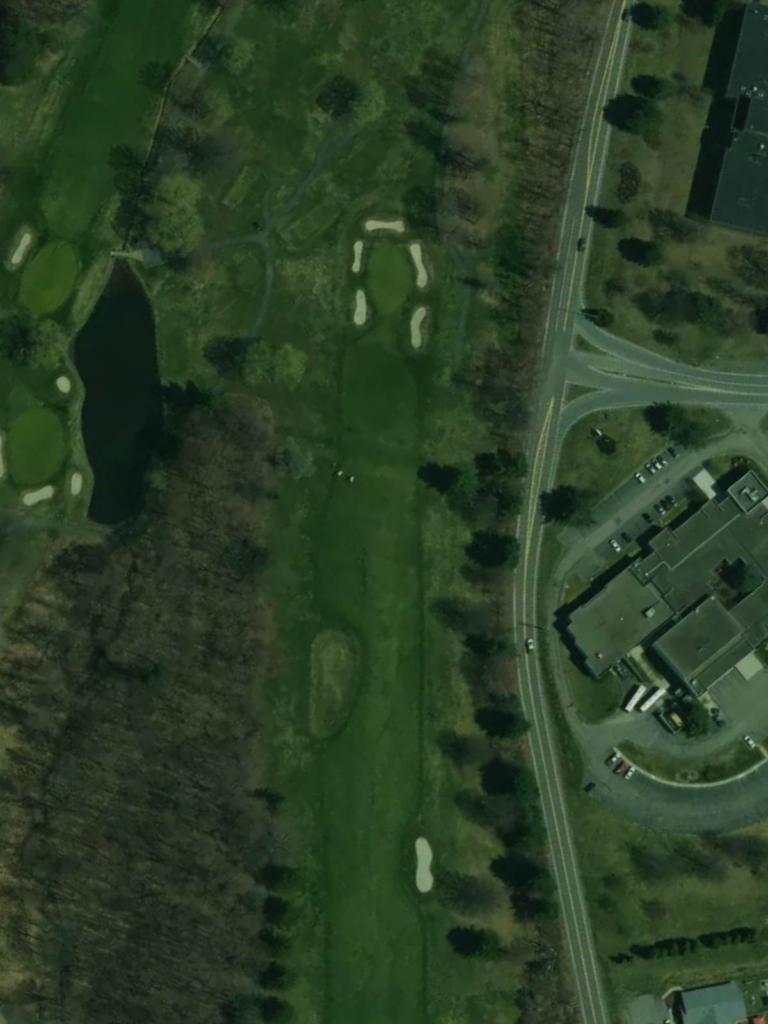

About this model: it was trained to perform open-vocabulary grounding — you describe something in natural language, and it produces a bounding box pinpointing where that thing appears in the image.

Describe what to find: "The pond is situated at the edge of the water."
[74,259,165,522]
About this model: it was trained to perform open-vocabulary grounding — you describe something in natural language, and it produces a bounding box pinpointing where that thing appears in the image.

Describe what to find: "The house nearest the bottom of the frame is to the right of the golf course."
[666,981,748,1024]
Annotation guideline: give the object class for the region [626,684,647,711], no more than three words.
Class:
bus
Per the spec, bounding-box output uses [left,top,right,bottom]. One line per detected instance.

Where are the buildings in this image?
[706,3,768,236]
[666,981,748,1024]
[565,471,768,696]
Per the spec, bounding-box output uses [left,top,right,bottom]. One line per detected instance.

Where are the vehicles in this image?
[616,760,627,773]
[607,752,619,765]
[645,463,656,474]
[578,238,584,250]
[668,447,679,459]
[665,495,675,506]
[626,684,647,711]
[610,540,621,551]
[655,503,665,514]
[622,532,632,543]
[625,767,635,779]
[657,454,667,466]
[584,781,596,792]
[641,687,666,710]
[635,471,646,485]
[528,638,533,651]
[660,499,670,510]
[622,9,629,21]
[745,735,755,747]
[651,459,662,470]
[643,512,653,523]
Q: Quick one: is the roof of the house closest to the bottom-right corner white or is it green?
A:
green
